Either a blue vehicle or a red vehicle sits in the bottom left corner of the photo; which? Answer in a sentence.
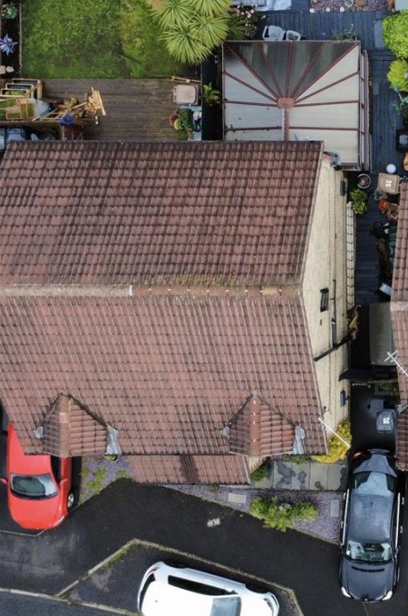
Looking in the bottom left corner of the photo, you will find a red vehicle.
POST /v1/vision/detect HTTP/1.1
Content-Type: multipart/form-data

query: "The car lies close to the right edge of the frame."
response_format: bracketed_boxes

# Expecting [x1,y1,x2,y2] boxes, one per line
[334,449,405,600]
